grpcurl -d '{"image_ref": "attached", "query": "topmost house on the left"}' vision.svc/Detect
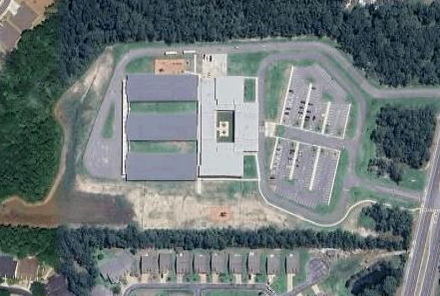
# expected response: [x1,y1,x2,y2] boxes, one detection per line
[10,2,36,29]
